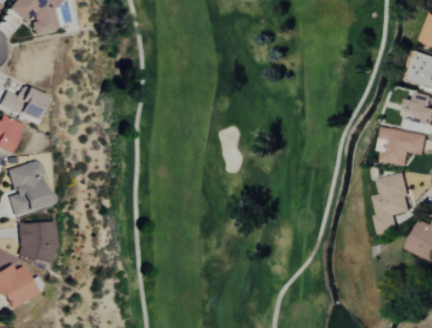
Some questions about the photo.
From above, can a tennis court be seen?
No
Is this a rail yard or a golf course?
golf course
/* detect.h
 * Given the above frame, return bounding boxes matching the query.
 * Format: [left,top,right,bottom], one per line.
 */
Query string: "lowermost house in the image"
[0,260,45,308]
